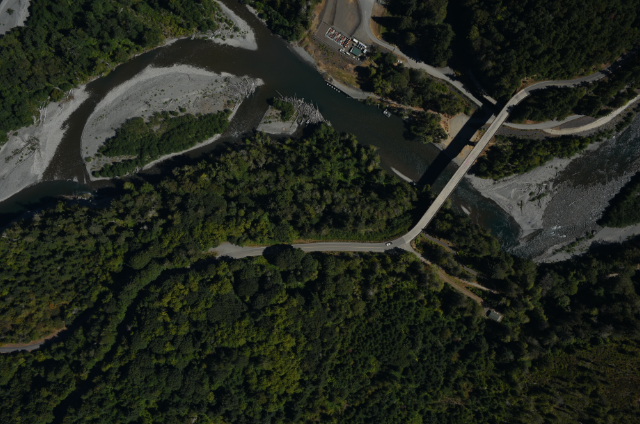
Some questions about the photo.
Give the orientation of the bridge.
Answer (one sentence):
The bridge has been laid out on a diagonal relative to the frame.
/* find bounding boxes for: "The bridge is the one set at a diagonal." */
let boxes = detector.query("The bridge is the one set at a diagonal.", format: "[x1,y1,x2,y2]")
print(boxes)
[402,87,531,243]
